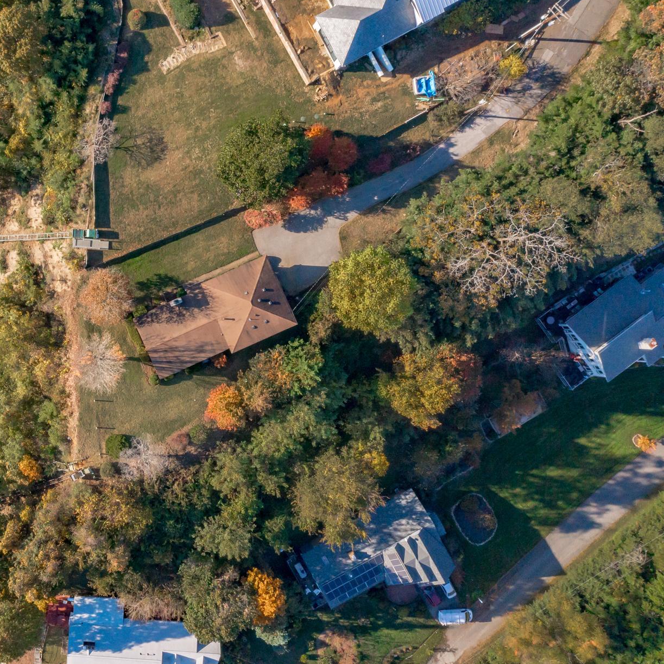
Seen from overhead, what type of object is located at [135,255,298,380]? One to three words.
house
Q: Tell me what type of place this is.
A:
residential area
